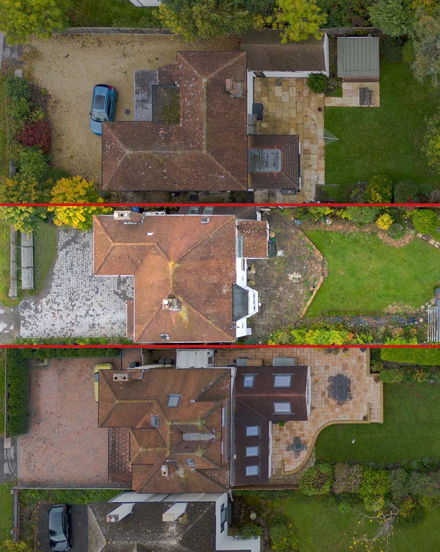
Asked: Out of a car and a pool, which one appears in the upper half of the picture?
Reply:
car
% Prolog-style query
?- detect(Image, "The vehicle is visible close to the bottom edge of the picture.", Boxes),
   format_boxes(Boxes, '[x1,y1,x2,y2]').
[45,503,73,552]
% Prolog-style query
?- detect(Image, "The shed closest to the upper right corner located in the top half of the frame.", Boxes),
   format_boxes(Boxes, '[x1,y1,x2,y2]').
[338,37,380,82]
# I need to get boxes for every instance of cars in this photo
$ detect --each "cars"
[87,83,118,136]
[90,365,113,412]
[45,503,73,552]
